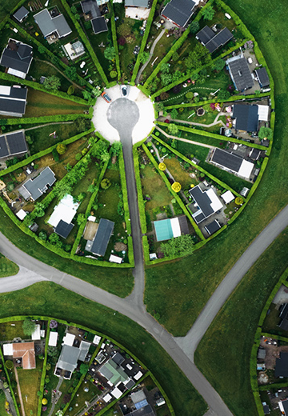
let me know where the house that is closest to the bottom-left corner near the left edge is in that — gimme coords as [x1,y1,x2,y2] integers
[3,342,35,369]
